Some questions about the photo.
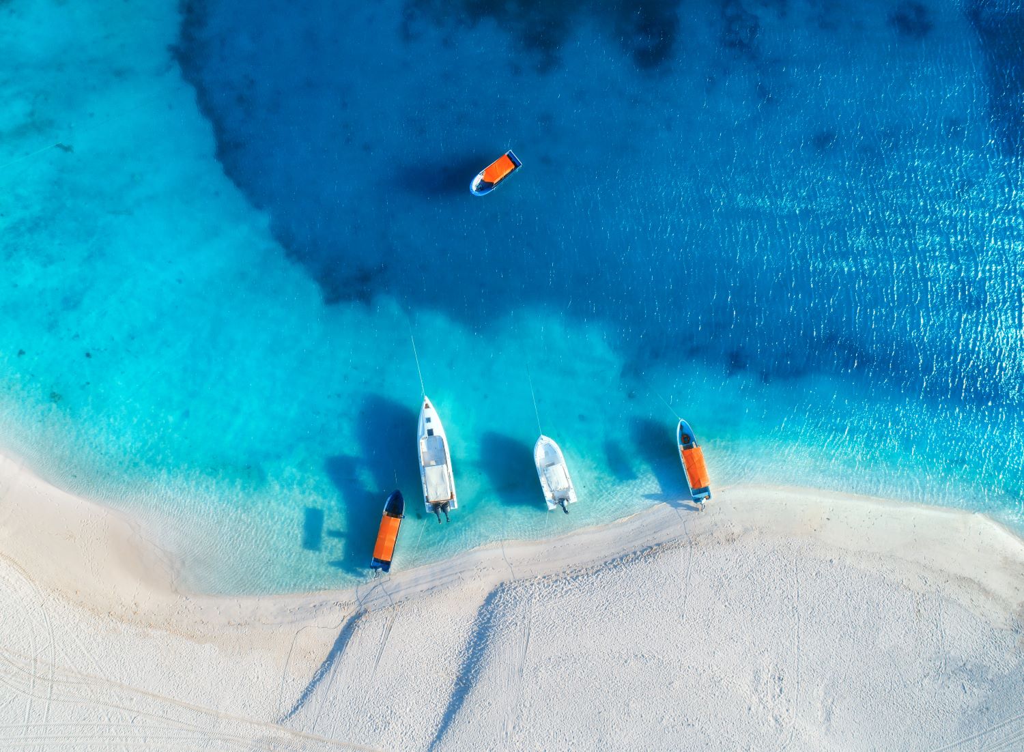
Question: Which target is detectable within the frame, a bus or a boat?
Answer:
boat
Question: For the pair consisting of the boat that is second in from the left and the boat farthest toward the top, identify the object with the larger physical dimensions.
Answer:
the boat that is second in from the left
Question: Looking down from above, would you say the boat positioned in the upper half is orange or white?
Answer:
orange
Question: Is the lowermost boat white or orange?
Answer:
orange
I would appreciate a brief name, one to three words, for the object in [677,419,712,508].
boat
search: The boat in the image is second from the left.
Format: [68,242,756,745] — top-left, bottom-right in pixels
[416,395,457,521]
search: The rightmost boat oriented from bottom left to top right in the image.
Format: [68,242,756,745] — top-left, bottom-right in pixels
[470,150,523,196]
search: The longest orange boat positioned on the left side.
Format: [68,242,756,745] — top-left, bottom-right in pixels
[371,489,403,576]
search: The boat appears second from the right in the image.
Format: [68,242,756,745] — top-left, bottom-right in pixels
[534,434,577,512]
